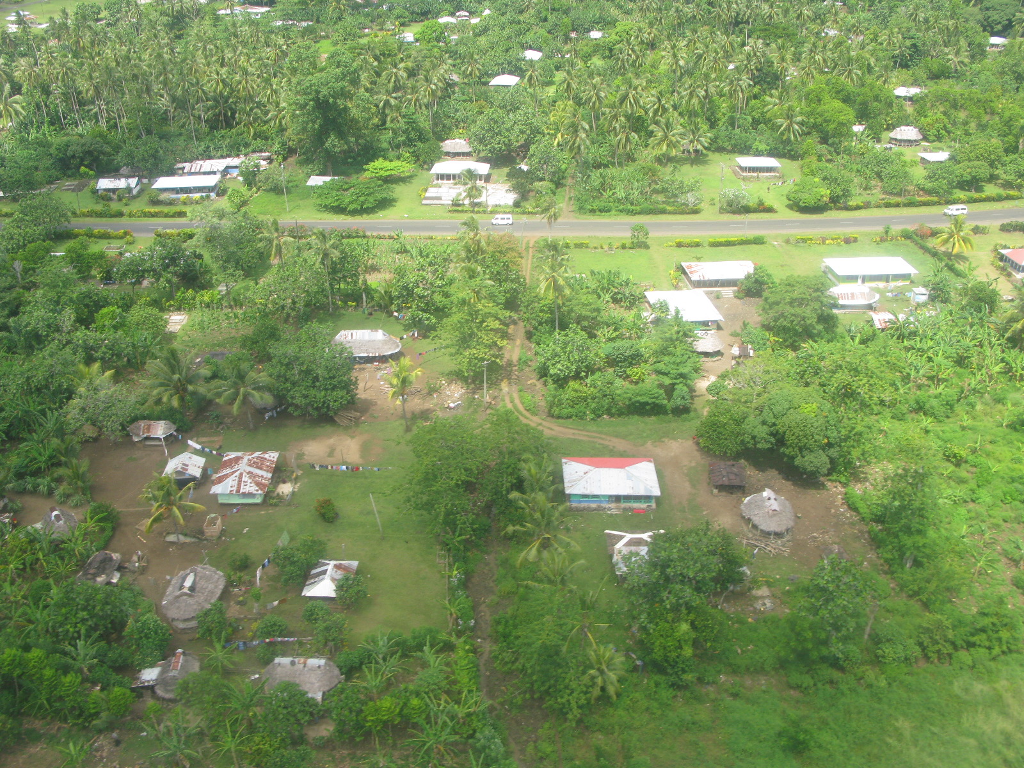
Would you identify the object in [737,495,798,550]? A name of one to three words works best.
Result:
building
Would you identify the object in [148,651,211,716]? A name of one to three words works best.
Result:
building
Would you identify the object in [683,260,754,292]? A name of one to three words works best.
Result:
house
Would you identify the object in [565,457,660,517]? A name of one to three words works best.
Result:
house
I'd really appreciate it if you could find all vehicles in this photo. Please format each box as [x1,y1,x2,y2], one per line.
[945,205,969,216]
[492,214,513,225]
